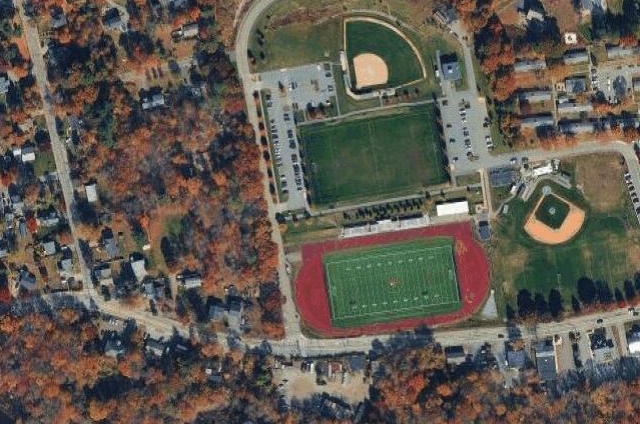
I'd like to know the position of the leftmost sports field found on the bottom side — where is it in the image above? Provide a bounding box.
[323,236,461,328]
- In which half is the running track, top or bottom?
bottom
